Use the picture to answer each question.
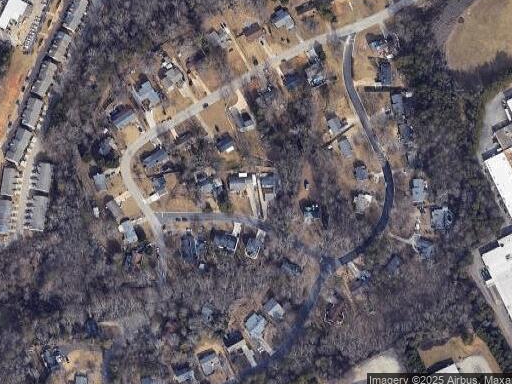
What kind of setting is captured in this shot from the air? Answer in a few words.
residential area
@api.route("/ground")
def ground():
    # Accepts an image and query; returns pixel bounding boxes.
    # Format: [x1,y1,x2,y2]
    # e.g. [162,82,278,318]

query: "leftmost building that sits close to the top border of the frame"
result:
[0,0,28,31]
